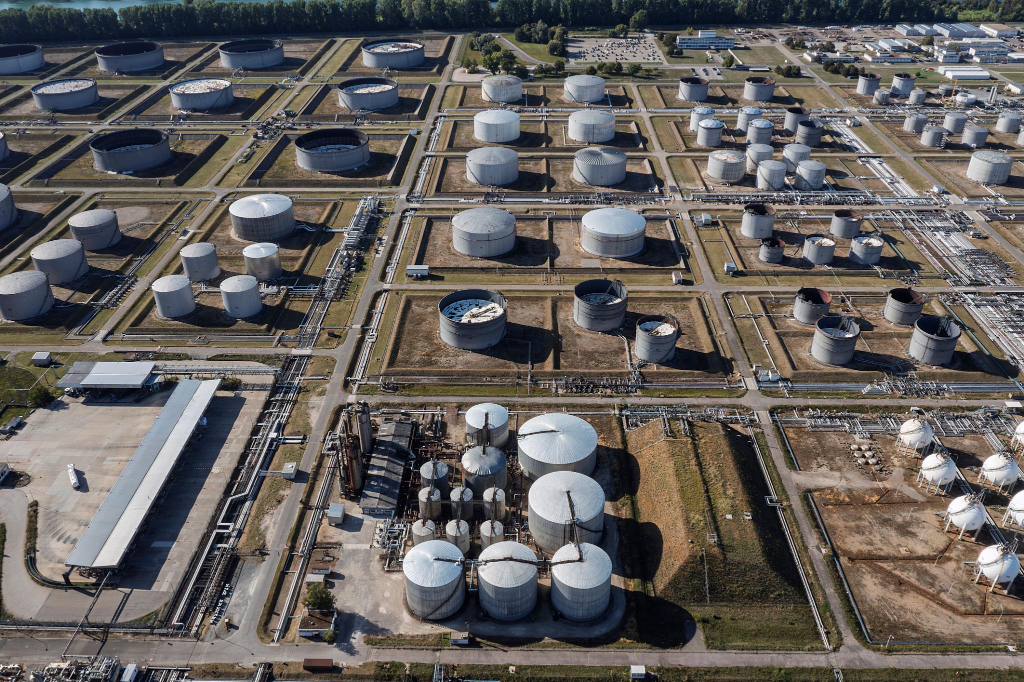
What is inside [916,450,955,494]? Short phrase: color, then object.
white storage tank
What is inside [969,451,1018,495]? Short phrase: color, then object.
white storage tank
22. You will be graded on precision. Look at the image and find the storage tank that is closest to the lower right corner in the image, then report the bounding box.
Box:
[963,530,1019,594]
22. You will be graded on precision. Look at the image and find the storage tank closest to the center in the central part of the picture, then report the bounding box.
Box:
[437,290,509,350]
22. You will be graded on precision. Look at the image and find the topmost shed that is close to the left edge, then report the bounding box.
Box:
[29,348,59,366]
